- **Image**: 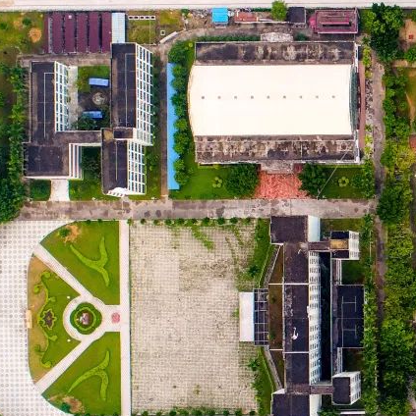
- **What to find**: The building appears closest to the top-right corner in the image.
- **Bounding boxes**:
[310,9,359,35]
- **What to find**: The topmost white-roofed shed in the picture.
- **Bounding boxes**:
[112,12,127,43]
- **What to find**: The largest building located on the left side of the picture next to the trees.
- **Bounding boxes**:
[23,43,154,197]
